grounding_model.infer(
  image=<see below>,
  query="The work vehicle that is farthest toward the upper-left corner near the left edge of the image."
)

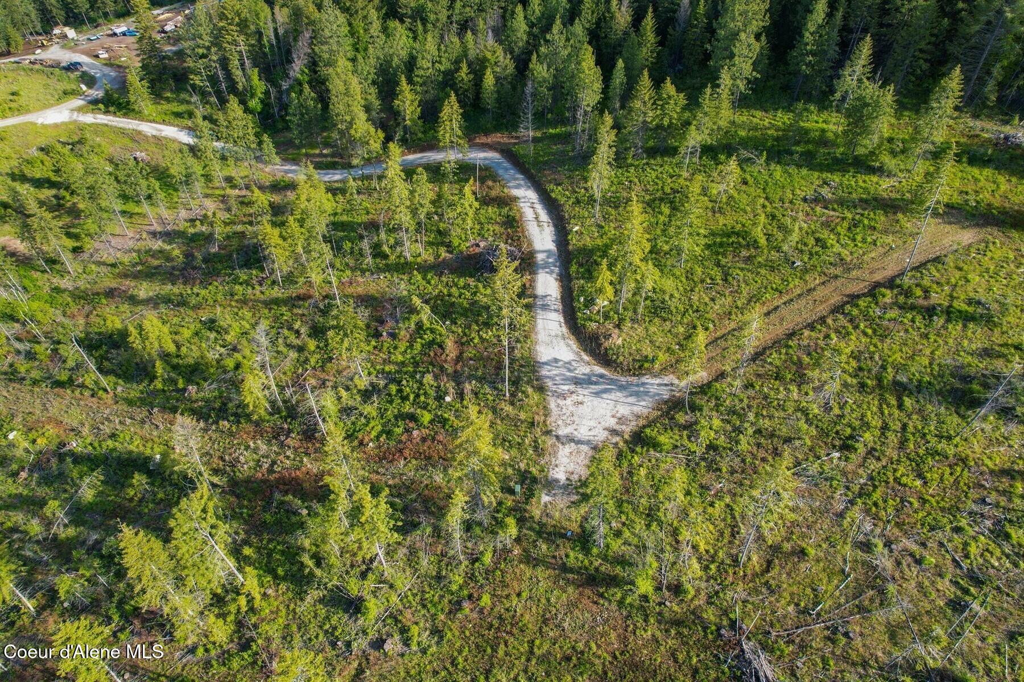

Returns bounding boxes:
[32,34,50,47]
